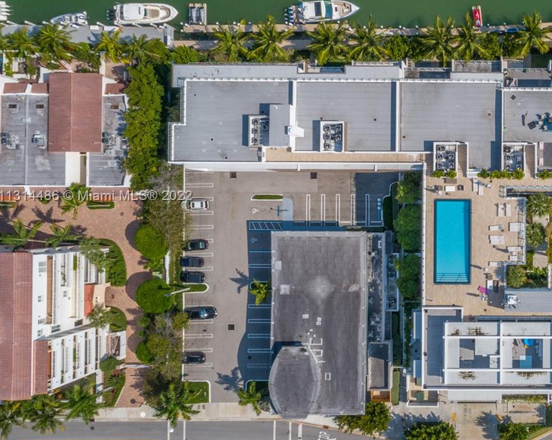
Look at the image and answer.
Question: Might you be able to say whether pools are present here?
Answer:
Yes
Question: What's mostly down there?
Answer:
buildings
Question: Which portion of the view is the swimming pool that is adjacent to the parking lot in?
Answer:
right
